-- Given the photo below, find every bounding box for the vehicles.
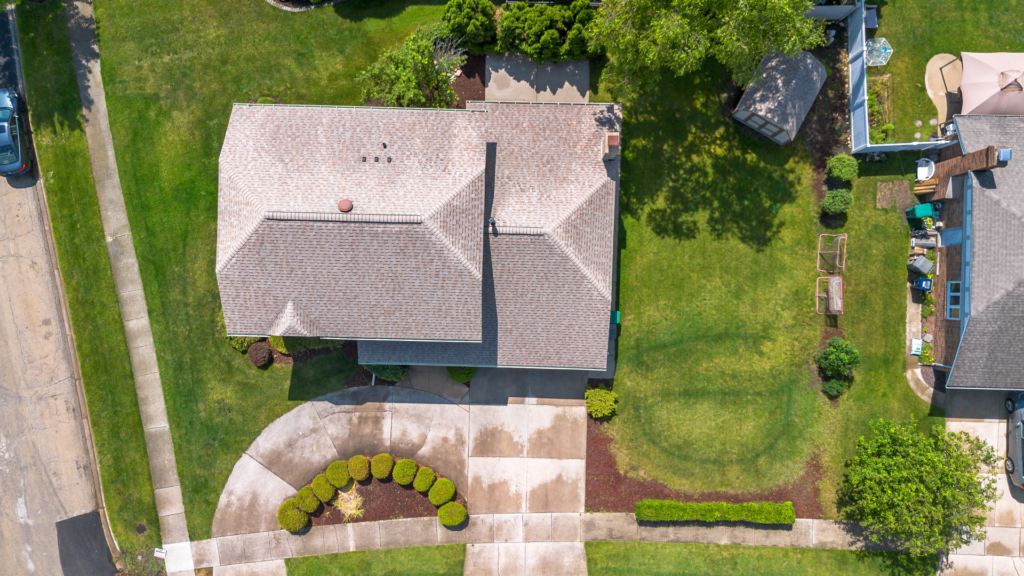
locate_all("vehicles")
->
[0,85,38,179]
[1003,393,1024,490]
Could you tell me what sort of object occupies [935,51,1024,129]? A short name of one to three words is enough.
gazebo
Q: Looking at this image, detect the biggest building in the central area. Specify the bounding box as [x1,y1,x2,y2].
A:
[215,98,620,387]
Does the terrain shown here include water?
No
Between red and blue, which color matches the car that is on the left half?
blue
